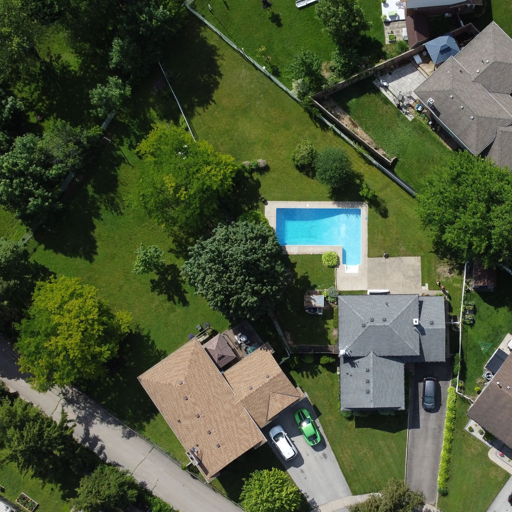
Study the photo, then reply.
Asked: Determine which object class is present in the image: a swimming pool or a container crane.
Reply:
swimming pool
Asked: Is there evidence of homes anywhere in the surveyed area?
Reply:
Yes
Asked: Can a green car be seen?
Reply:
Yes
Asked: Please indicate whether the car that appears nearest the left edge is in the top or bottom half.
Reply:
bottom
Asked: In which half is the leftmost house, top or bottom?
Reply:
bottom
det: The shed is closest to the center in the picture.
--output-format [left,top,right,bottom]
[303,294,325,308]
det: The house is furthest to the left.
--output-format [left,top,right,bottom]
[137,337,305,483]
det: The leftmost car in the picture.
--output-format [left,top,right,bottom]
[269,423,297,462]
